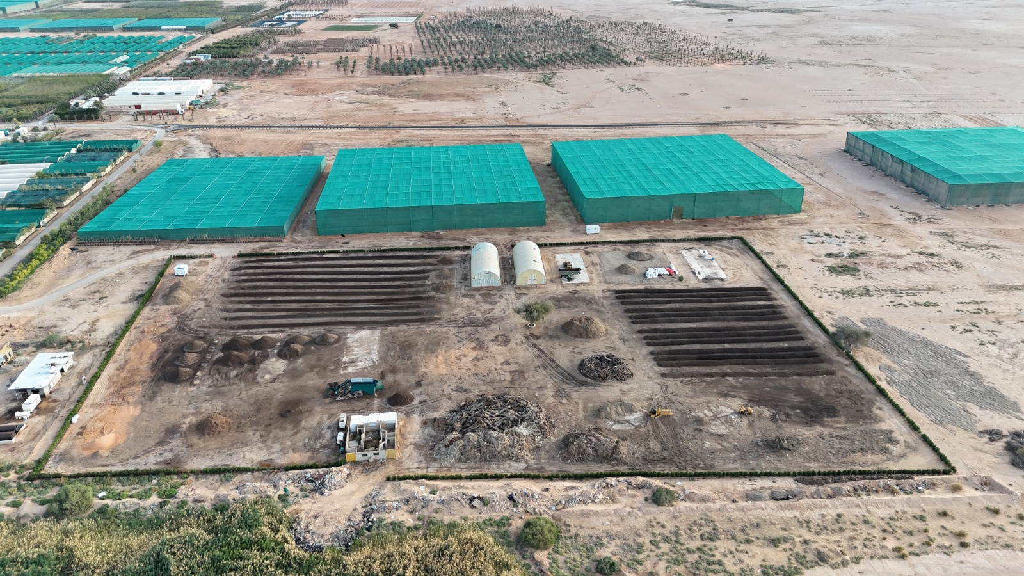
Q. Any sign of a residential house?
Yes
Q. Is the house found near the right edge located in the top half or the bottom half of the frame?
top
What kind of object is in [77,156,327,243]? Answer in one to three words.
house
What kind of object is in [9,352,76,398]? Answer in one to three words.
shed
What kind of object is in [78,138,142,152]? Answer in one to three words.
greenhouse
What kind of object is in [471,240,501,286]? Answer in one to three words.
hangar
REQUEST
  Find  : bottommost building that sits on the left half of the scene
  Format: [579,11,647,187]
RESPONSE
[344,409,400,463]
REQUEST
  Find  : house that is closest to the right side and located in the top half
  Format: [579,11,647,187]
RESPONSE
[841,125,1024,204]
